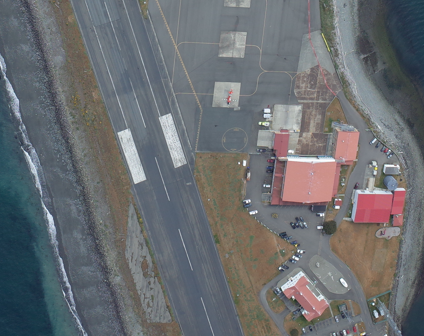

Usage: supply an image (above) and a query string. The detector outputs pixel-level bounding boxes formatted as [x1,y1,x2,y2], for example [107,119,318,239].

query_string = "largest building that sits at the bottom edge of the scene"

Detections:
[282,272,329,321]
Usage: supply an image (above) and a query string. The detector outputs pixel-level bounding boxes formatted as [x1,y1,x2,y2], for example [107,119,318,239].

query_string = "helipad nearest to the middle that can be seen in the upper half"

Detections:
[213,81,240,110]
